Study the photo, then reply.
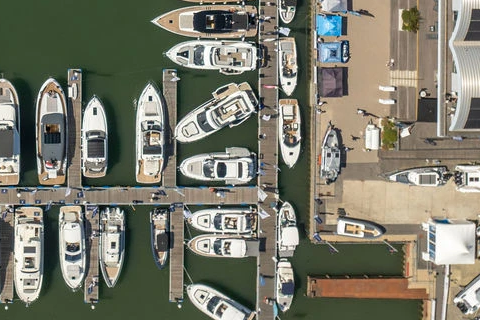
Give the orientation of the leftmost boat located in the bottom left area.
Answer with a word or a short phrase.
up and down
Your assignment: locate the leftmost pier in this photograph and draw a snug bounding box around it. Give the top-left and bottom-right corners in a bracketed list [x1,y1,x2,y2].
[0,205,13,304]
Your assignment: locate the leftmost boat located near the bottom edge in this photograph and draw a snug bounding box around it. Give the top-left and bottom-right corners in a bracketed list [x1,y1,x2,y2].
[12,206,45,306]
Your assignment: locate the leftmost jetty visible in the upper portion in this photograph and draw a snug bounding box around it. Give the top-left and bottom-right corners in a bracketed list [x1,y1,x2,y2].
[68,68,82,184]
